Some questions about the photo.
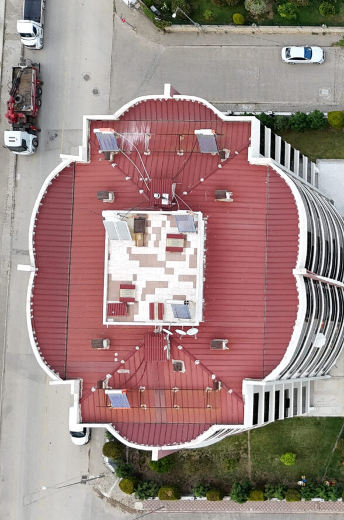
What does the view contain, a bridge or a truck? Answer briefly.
truck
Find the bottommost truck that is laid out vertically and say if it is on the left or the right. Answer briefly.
left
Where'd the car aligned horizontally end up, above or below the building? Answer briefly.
above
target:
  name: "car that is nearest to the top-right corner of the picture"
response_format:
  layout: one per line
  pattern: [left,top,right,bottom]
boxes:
[283,45,323,65]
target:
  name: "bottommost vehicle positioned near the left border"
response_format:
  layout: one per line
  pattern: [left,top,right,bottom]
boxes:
[3,53,46,155]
